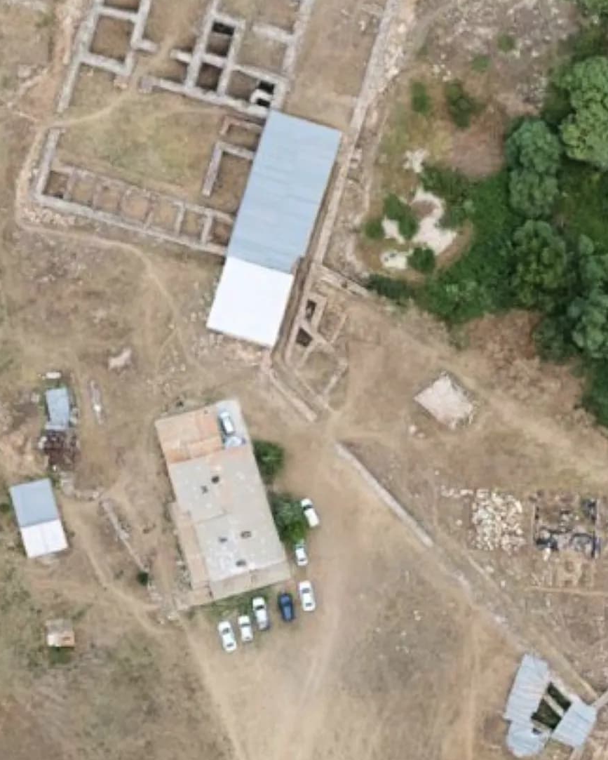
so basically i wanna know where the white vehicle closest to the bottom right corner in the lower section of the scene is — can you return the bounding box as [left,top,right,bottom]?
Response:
[299,580,316,611]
